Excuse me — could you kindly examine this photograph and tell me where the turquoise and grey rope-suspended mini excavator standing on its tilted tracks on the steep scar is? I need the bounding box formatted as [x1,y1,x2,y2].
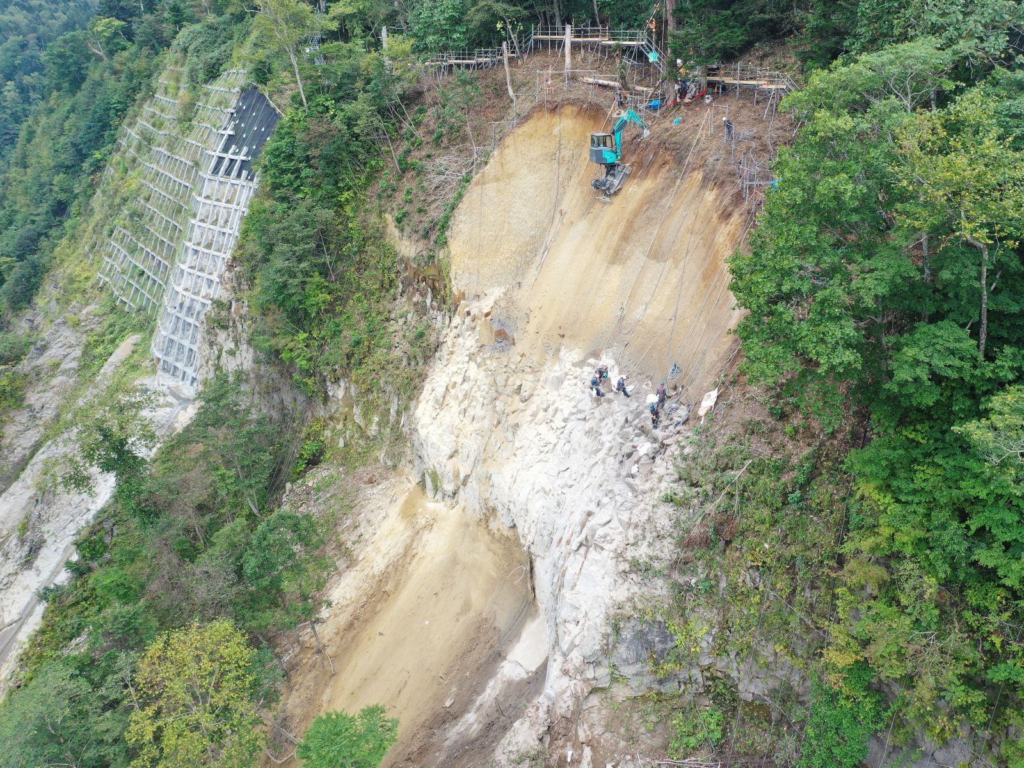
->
[589,106,653,204]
